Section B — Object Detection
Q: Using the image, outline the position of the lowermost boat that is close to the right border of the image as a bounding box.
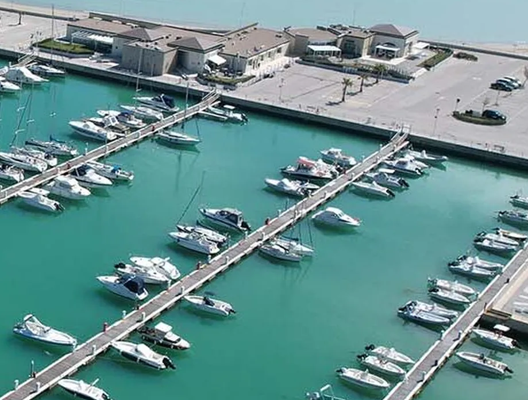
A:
[458,353,518,377]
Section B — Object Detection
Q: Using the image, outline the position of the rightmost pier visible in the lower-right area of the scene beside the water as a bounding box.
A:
[485,270,528,340]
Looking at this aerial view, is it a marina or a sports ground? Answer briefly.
marina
